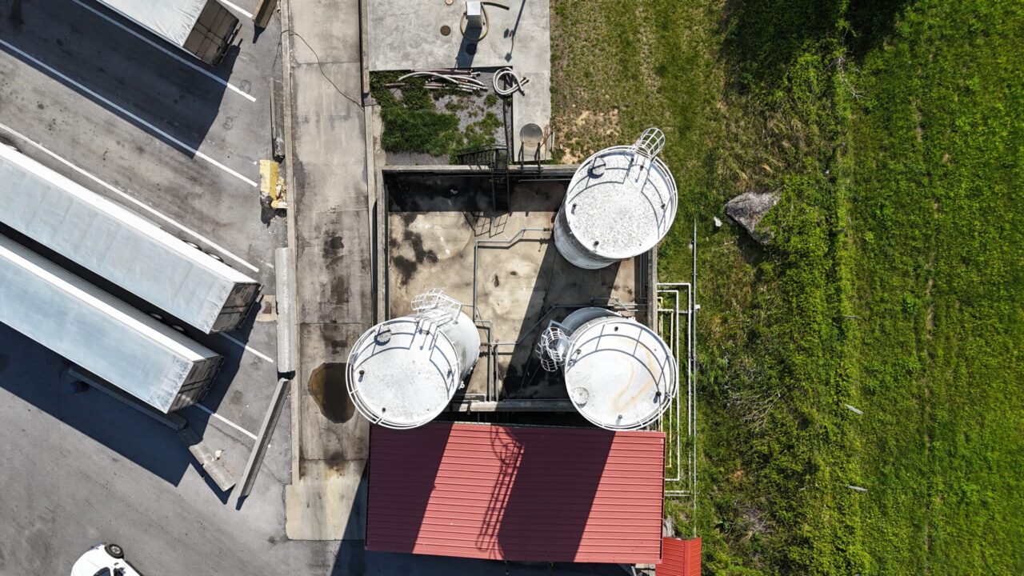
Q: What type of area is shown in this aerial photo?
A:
industrial area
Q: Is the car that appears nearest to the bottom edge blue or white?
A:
white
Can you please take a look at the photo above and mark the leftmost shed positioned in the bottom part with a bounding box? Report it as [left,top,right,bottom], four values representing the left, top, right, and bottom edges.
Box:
[365,413,667,565]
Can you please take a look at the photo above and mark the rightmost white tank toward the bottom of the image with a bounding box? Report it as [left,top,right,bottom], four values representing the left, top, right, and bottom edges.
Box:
[533,306,679,431]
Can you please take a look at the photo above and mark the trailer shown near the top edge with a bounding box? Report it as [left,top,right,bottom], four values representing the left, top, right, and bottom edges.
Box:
[89,0,246,72]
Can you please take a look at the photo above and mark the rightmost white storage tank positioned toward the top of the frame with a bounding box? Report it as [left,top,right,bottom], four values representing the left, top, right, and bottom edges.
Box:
[551,123,679,270]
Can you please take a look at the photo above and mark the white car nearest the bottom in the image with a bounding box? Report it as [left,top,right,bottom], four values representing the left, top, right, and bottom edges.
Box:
[72,543,141,576]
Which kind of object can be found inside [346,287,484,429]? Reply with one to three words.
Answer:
storage tank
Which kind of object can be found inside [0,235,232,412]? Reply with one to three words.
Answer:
trailer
